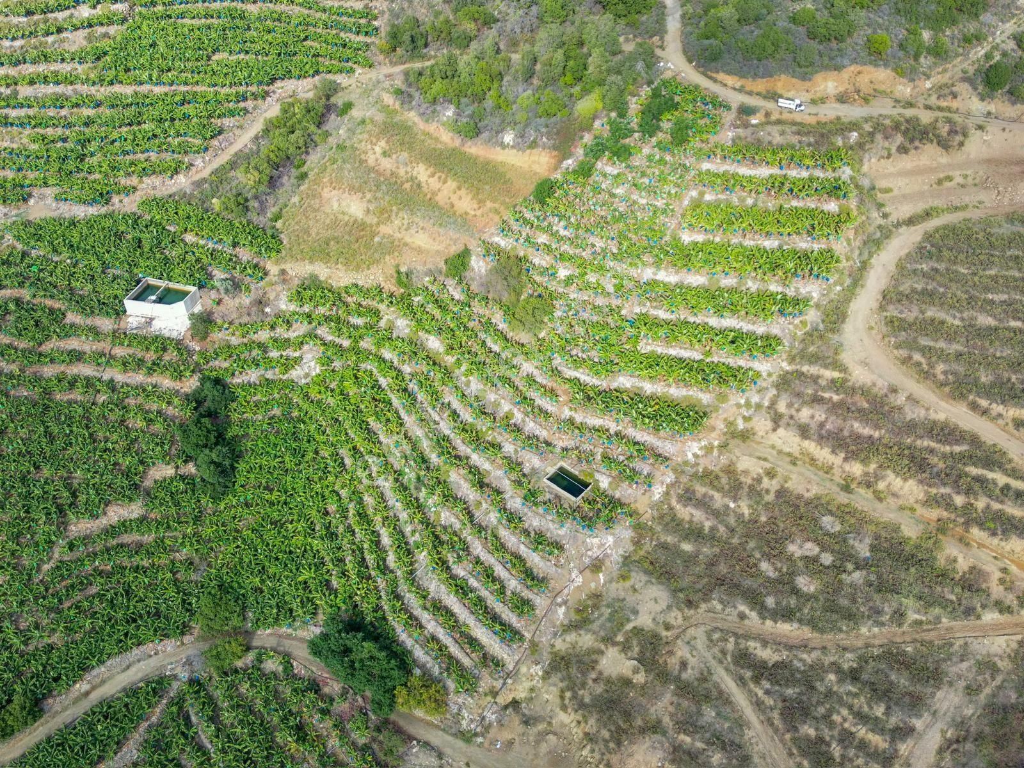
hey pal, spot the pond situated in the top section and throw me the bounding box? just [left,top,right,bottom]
[124,278,202,323]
